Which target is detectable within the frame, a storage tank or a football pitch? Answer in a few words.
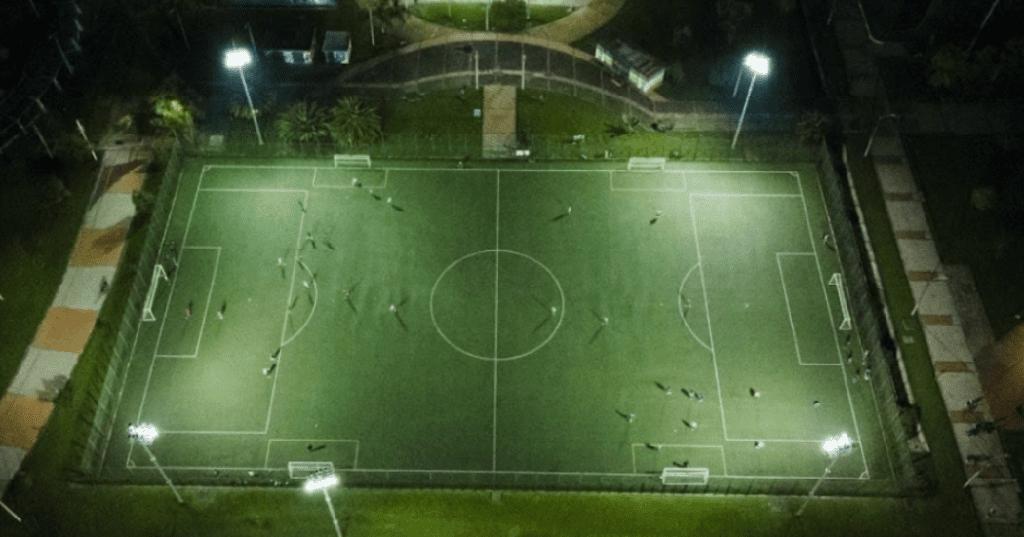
football pitch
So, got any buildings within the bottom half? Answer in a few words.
No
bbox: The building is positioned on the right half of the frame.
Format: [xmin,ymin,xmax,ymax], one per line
[594,28,669,90]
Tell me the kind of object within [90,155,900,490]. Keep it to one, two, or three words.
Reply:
soccer field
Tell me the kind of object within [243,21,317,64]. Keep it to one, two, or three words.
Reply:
building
